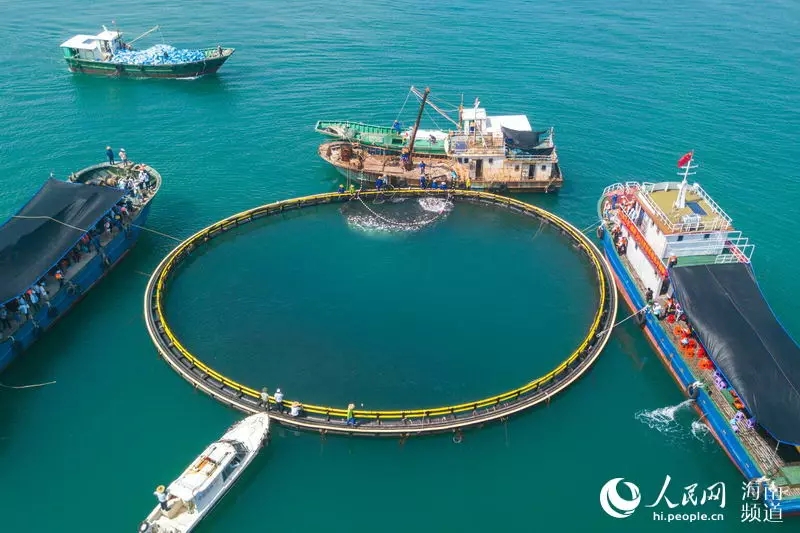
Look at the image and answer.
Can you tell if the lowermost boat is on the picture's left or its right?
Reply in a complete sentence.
The lowermost boat sits on the left side.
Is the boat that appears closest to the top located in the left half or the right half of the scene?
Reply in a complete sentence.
It is on the left.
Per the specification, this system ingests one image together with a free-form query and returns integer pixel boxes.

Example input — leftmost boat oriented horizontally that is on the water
[55,12,238,80]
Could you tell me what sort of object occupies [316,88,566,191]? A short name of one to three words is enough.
boat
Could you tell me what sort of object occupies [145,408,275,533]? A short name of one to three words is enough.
boat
